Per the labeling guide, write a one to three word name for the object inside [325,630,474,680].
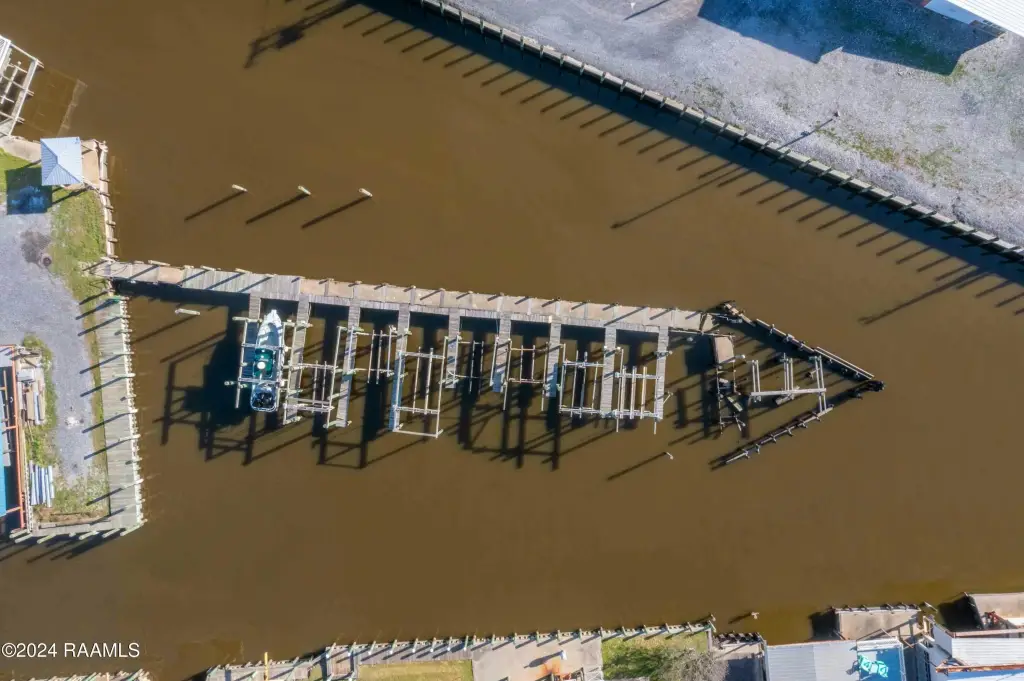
pier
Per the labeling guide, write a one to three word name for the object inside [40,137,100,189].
gazebo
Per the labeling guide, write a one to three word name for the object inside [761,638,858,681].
shed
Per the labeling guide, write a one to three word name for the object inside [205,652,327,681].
pier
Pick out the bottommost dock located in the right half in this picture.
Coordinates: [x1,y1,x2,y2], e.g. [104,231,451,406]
[833,601,937,663]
